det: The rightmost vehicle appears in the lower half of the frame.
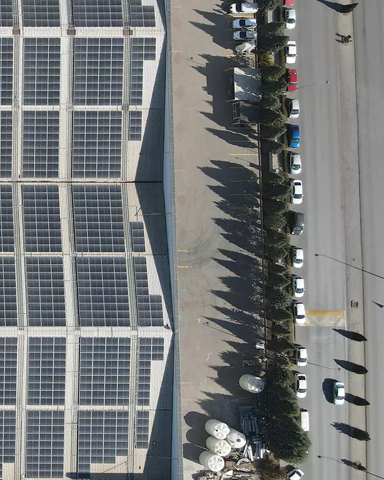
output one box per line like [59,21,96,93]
[333,380,346,405]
